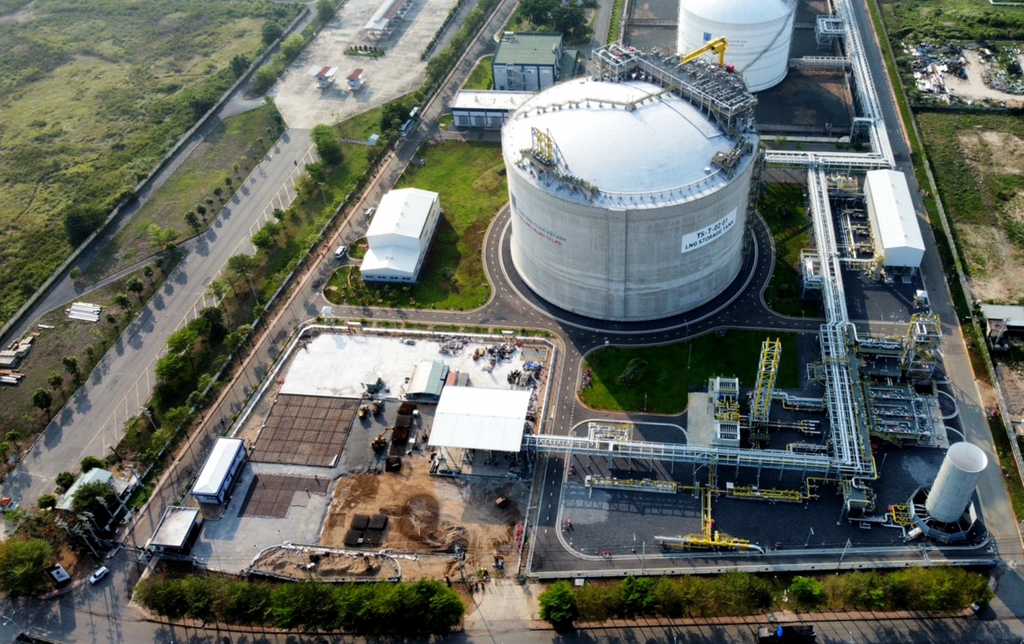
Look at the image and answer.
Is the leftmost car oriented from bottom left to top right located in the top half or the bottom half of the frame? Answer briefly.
bottom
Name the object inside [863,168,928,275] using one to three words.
shed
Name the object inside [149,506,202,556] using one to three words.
building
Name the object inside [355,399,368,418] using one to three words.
vehicle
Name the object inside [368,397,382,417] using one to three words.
work vehicle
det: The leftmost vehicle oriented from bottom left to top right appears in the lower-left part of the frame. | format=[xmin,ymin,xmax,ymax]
[84,562,112,586]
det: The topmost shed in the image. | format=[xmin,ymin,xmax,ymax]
[357,0,426,45]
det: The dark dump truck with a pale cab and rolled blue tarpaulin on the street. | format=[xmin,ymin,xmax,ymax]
[761,622,811,643]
